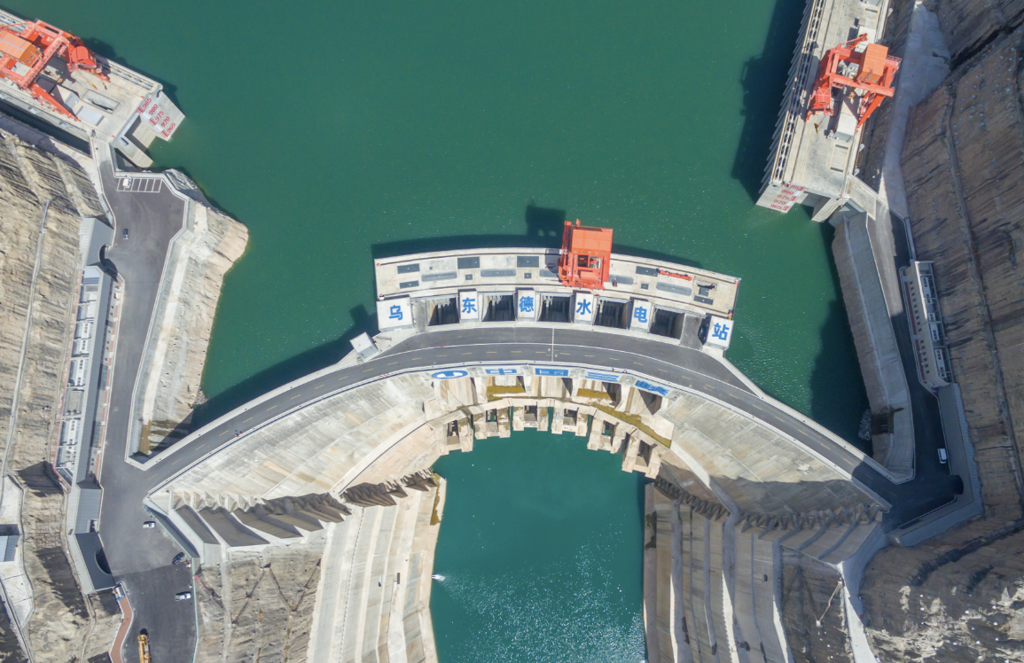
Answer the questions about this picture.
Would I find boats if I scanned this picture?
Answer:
No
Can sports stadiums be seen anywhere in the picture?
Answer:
No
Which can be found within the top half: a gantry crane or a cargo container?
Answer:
gantry crane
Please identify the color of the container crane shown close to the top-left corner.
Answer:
red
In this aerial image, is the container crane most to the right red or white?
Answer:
red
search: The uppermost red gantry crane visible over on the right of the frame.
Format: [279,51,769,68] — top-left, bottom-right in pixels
[806,27,902,131]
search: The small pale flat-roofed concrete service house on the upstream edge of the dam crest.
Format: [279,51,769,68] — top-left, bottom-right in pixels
[349,331,376,359]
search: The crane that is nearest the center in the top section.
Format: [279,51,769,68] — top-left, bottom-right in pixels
[552,223,615,290]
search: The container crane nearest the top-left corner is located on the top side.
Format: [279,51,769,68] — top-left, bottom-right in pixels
[0,15,112,119]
